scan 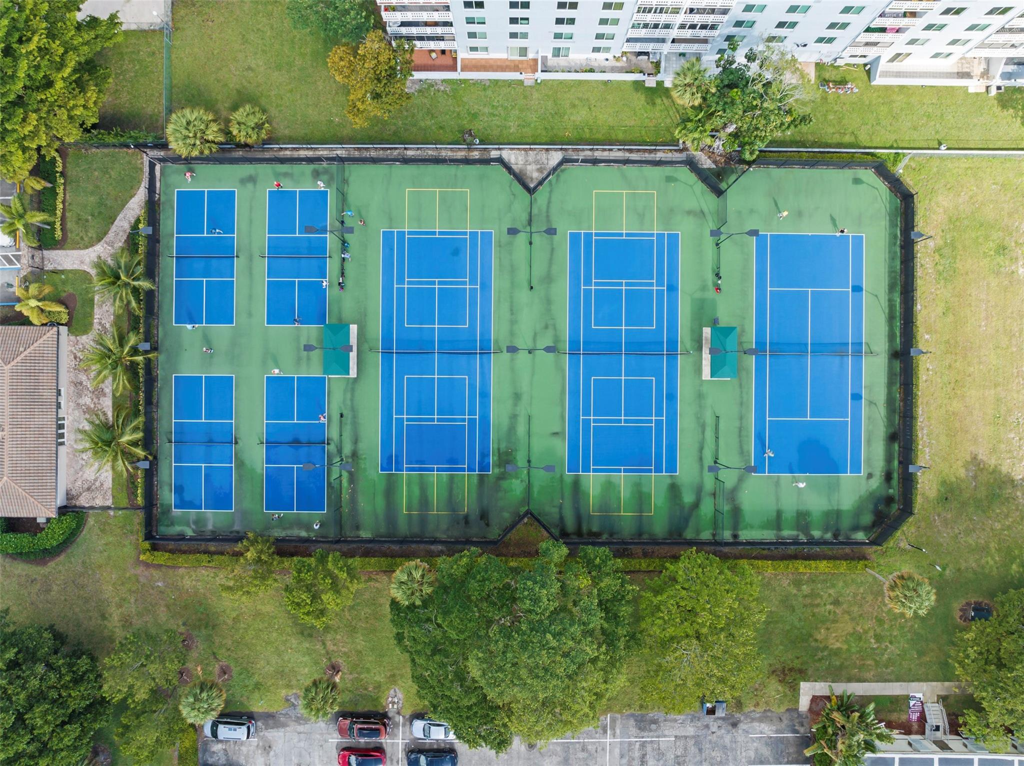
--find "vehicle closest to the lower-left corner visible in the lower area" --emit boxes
[203,717,255,744]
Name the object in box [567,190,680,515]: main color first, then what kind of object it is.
blue tennis court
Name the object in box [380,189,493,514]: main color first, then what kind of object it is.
blue tennis court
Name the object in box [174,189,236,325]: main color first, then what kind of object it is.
blue sports court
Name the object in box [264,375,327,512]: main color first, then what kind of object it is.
blue sports court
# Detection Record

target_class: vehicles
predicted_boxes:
[337,718,388,745]
[0,228,14,248]
[337,747,385,766]
[406,749,455,766]
[408,719,455,745]
[203,717,255,744]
